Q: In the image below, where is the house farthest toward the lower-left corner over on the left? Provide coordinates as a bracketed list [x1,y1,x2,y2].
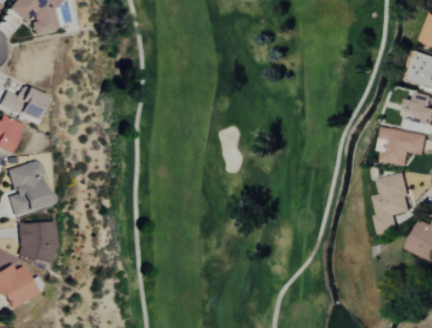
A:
[0,260,45,308]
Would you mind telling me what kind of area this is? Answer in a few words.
golf course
